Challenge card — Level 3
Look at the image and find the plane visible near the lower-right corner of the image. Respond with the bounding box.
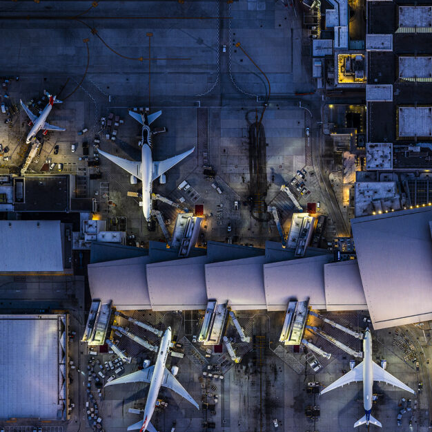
[319,327,415,429]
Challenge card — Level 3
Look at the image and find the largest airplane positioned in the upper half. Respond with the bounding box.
[97,109,194,221]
